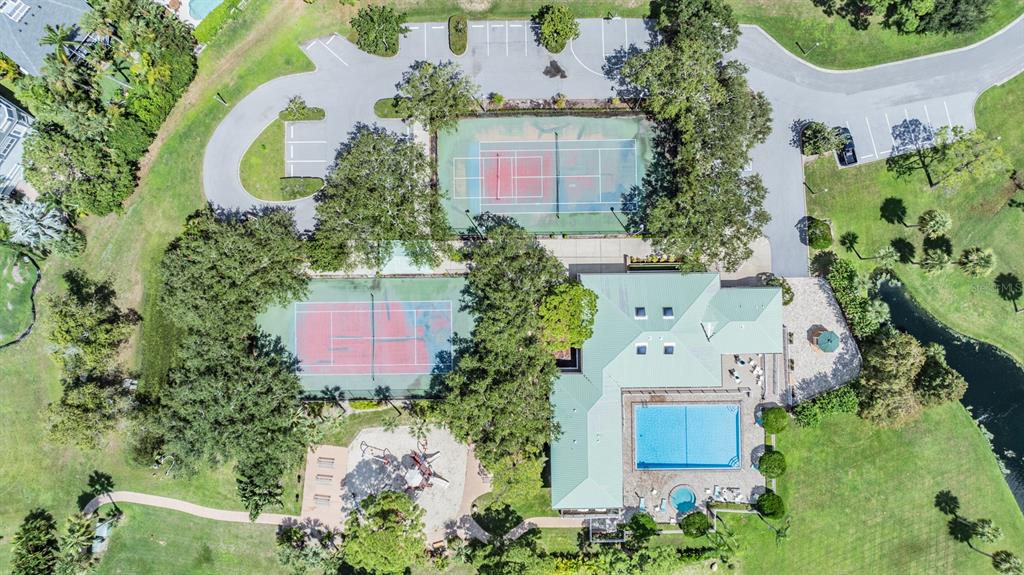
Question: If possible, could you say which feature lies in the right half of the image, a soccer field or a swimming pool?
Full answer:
You can see a swimming pool in the right half of the image.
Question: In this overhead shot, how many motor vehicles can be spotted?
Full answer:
The picture shows just 1 motor vehicle.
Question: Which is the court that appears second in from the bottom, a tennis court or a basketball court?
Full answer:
Specifically, the court that appears second in from the bottom is a tennis court.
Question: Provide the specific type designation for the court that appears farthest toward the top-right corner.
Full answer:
The court that appears farthest toward the top-right corner in the image is a basketball court.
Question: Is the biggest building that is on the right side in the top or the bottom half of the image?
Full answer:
It is in the bottom half that the biggest building that is on the right side appears.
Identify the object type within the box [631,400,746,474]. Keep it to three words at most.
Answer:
swimming pool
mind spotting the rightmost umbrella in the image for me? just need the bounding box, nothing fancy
[817,330,839,352]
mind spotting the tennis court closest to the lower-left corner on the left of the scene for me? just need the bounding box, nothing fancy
[257,277,473,400]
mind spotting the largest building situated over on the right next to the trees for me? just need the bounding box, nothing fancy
[552,273,782,519]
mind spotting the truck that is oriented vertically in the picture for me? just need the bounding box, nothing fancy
[839,127,862,165]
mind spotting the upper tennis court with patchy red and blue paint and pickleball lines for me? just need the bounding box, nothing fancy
[437,115,655,234]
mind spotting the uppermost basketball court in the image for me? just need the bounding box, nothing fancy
[572,19,652,78]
